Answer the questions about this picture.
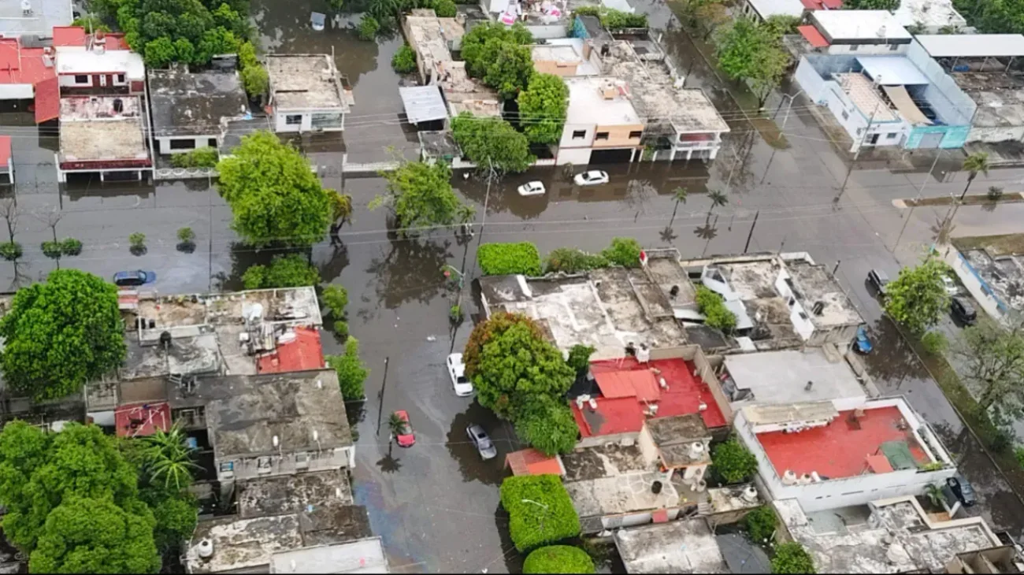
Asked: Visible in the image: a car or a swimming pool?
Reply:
car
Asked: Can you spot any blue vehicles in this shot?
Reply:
Yes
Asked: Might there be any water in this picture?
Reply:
Yes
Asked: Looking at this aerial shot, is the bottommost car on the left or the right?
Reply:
right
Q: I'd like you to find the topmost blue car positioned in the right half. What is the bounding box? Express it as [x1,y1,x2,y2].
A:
[856,329,875,356]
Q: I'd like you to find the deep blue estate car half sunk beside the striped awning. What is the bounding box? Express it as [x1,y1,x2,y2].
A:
[113,267,158,284]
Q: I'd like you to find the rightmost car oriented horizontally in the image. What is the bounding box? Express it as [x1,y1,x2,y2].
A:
[574,169,610,184]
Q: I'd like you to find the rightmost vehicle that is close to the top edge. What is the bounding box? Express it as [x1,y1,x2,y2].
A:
[310,10,325,29]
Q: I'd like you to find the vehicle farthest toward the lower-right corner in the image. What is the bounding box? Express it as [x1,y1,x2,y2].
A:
[948,472,980,509]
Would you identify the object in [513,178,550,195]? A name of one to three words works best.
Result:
car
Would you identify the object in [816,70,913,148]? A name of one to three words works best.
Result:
house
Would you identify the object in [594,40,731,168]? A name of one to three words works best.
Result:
house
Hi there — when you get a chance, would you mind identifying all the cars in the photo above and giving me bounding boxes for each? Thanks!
[310,10,325,29]
[948,293,978,324]
[948,472,980,509]
[465,421,498,459]
[448,357,472,392]
[574,169,610,184]
[113,267,158,284]
[72,0,83,19]
[856,329,875,356]
[866,266,895,297]
[513,178,550,195]
[393,412,417,445]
